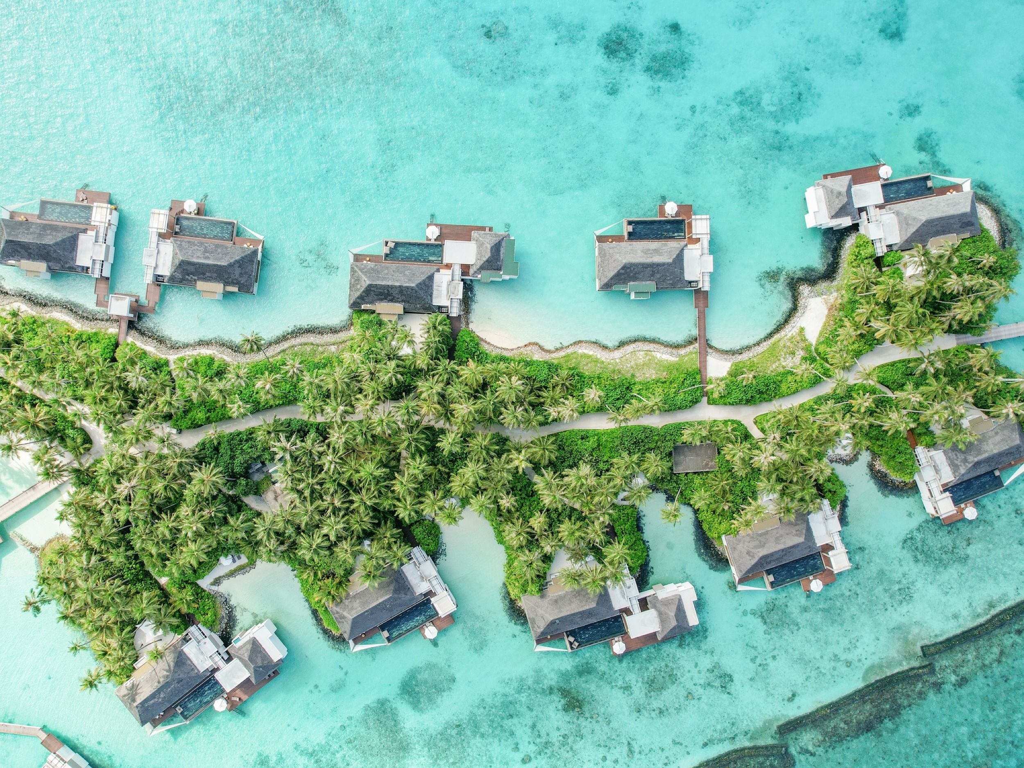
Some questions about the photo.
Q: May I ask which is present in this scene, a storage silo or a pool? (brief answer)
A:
pool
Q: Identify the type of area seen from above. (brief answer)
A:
residential area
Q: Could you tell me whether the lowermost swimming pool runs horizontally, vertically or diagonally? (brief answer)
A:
diagonally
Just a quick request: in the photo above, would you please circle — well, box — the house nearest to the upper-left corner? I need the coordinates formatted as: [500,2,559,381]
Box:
[0,184,127,280]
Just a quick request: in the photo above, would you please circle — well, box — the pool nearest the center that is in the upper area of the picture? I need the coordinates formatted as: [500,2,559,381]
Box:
[380,240,444,264]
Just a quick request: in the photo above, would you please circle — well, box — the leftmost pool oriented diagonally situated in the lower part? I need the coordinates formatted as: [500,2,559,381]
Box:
[172,674,230,726]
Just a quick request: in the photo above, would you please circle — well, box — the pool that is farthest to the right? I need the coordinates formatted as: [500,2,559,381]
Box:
[949,461,1017,502]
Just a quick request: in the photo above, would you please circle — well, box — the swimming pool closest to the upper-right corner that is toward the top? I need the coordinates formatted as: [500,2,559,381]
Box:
[876,172,938,204]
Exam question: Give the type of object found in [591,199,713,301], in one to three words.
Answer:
house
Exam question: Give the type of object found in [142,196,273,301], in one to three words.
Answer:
house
